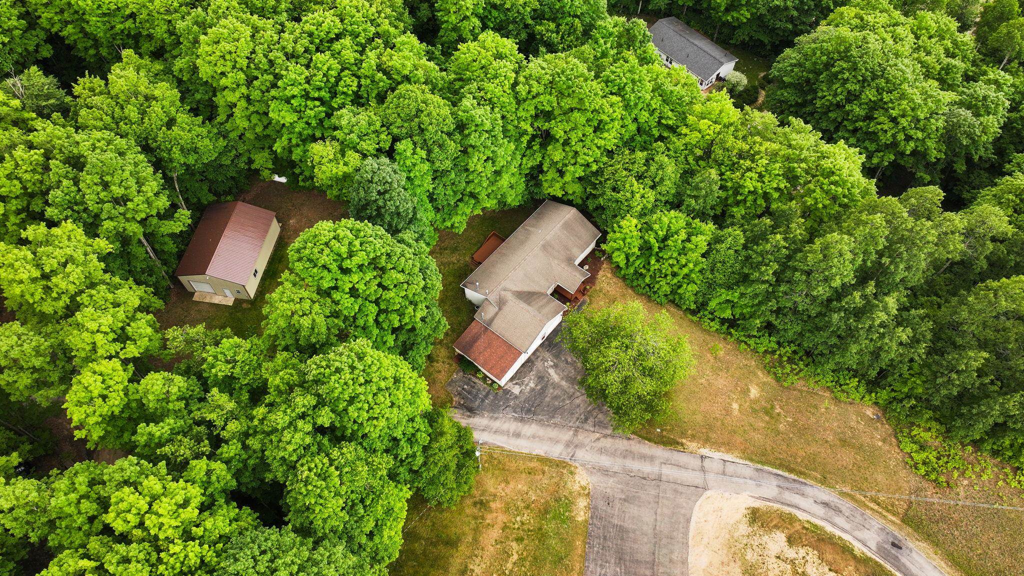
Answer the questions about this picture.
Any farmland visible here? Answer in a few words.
No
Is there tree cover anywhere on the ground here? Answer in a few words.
Yes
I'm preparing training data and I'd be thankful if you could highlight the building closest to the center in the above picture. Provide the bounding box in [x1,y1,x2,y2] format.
[453,200,601,386]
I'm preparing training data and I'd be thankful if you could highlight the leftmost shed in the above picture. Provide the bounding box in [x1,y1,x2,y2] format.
[174,201,280,299]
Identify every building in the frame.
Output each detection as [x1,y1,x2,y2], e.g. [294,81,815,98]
[640,17,737,89]
[453,200,601,386]
[174,201,280,299]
